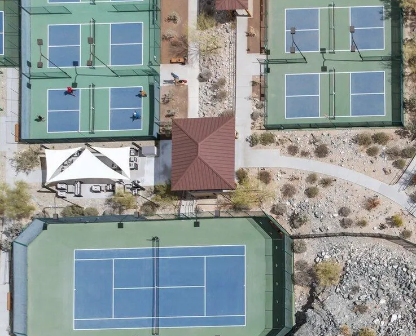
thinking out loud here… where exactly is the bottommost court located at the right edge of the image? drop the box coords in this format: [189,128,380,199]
[266,61,402,130]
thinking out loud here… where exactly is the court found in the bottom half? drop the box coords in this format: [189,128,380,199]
[26,214,295,336]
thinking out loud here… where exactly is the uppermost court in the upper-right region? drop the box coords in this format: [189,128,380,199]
[267,0,401,62]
